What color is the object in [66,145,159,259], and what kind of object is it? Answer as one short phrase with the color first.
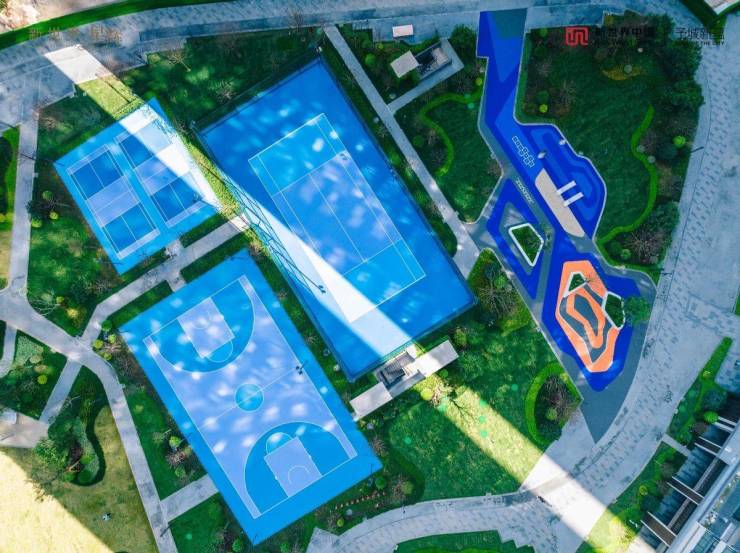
blue sports court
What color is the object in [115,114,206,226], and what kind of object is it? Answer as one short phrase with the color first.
blue sports court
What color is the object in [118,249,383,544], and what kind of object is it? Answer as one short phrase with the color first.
blue basketball court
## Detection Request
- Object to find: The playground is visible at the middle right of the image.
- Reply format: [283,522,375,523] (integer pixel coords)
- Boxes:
[464,7,657,444]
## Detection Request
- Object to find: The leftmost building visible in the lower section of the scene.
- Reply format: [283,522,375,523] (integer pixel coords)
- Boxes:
[350,340,458,418]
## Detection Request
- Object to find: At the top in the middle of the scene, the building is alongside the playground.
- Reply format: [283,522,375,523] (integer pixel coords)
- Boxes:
[391,42,453,83]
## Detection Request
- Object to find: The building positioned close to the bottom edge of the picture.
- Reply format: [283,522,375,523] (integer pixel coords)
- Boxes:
[637,398,740,553]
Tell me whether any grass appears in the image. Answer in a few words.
Yes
